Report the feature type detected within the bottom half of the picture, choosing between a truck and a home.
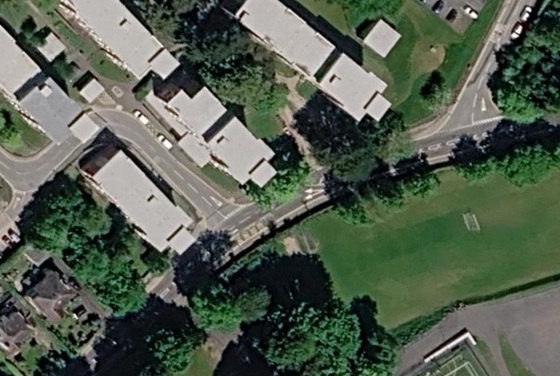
home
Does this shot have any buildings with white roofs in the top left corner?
Yes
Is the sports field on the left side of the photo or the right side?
right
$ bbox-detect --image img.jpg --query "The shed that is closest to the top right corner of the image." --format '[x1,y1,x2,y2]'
[364,19,401,58]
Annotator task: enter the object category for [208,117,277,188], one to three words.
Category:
building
